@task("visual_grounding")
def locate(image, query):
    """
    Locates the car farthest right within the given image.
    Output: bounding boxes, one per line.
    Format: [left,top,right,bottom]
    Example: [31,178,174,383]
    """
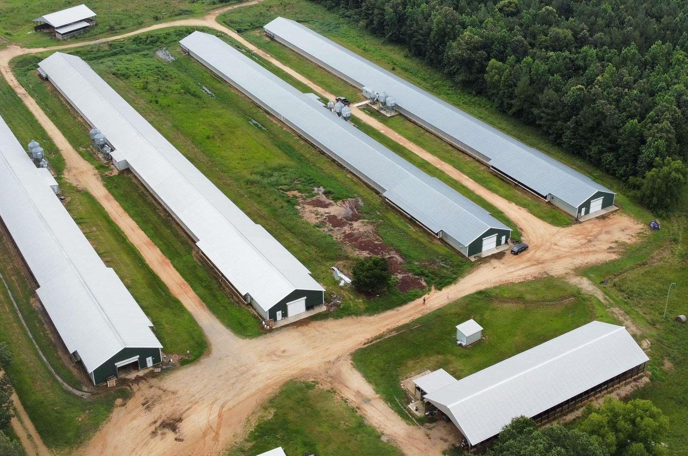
[512,242,533,254]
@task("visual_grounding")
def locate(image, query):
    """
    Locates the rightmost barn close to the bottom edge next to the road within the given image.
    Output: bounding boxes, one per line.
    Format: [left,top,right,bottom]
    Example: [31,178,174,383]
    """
[413,321,649,456]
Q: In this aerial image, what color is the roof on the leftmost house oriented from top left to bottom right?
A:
white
